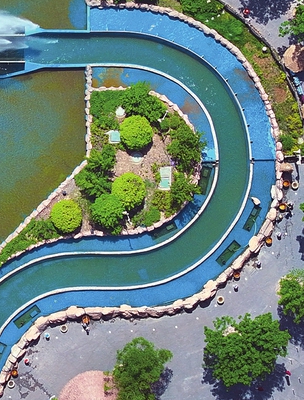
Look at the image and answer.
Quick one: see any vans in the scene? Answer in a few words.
No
